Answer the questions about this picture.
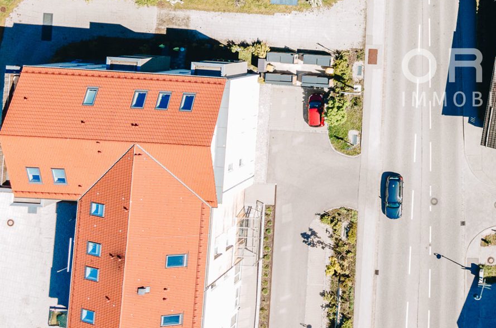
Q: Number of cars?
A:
2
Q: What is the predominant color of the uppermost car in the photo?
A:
red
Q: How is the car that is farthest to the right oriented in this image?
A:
up and down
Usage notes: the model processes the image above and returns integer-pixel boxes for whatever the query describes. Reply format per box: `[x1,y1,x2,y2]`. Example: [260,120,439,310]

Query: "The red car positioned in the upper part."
[305,93,326,127]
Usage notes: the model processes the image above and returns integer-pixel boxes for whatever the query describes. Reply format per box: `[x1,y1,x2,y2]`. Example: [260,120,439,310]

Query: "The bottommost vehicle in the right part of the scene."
[382,172,406,218]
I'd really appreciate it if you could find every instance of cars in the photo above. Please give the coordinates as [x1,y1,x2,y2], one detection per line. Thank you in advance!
[305,93,326,127]
[382,172,406,218]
